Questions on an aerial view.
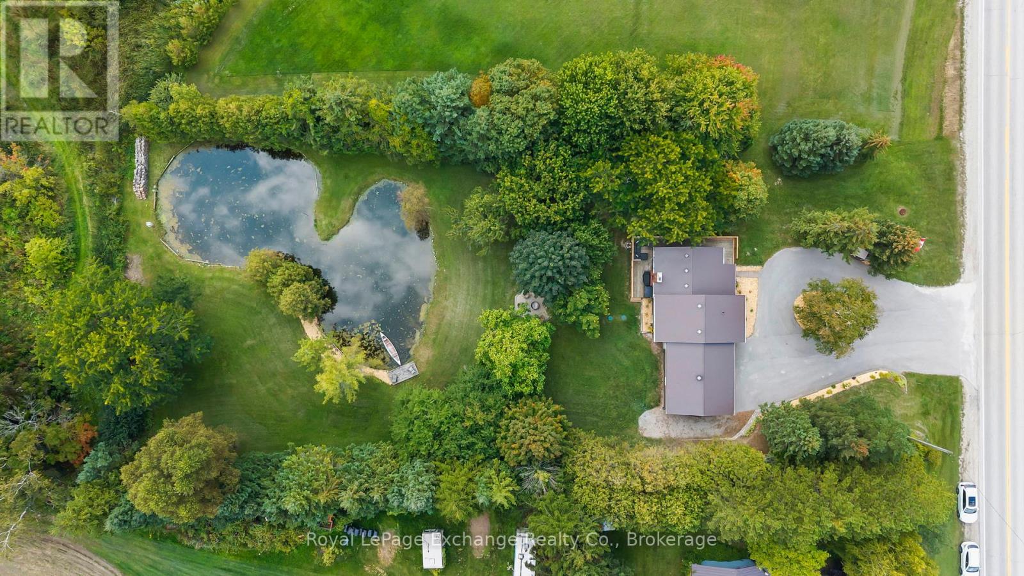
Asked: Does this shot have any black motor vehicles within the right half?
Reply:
No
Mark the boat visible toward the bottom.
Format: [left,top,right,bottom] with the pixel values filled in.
[380,331,401,366]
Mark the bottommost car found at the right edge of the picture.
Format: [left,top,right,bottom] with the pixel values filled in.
[959,543,982,576]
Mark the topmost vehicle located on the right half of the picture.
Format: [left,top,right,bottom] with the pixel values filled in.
[957,484,980,523]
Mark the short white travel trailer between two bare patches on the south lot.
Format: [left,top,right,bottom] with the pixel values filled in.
[423,514,446,569]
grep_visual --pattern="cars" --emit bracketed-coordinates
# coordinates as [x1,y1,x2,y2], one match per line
[957,484,980,523]
[959,543,982,576]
